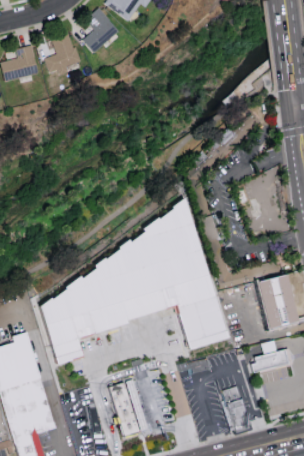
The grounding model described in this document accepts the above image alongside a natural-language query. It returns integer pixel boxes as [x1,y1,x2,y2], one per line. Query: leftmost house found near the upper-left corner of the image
[1,46,38,81]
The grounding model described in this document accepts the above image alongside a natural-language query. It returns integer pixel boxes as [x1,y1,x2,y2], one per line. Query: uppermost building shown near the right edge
[259,274,304,330]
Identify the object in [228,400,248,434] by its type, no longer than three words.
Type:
building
